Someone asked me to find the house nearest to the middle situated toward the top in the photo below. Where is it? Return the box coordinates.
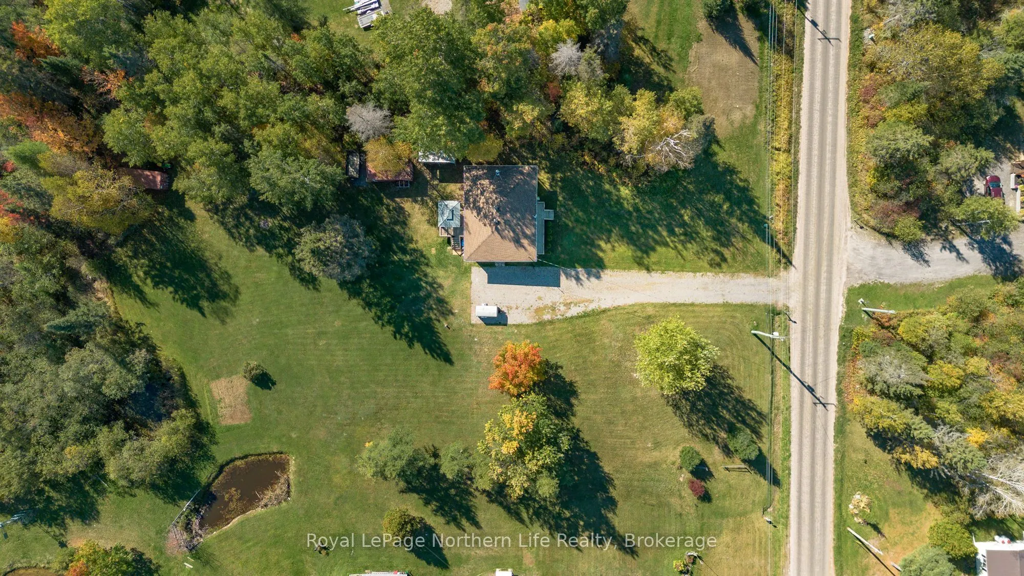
[464,165,538,262]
